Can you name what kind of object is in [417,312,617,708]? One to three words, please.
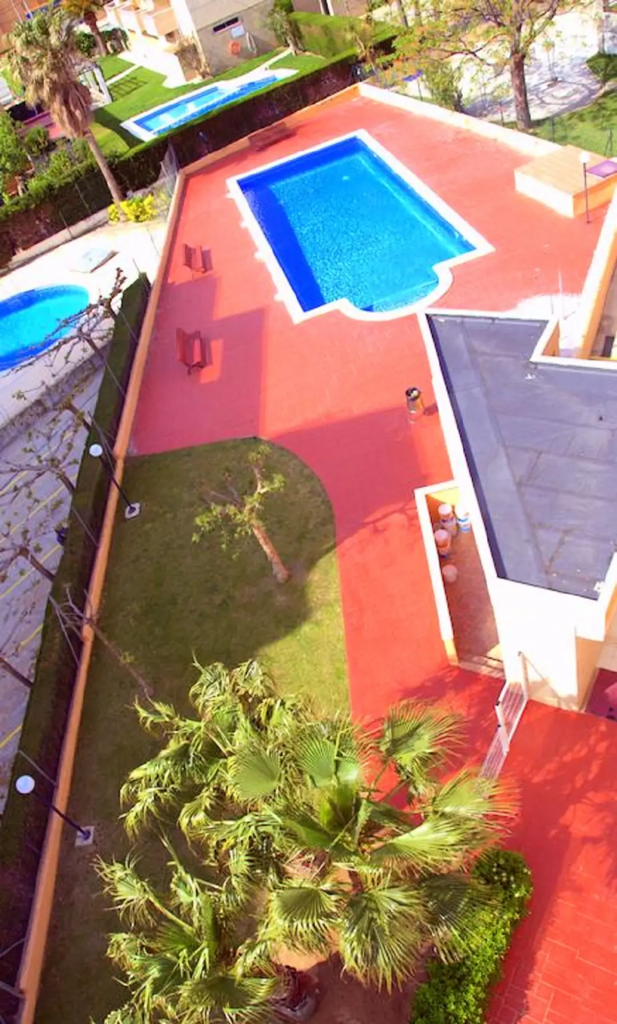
building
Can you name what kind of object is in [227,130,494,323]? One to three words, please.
swimming pool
